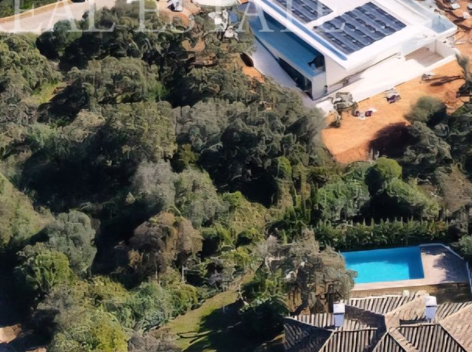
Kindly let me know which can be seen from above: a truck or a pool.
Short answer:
pool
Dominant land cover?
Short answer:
trees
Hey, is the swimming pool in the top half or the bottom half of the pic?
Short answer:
bottom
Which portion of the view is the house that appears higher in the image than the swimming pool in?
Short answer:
top right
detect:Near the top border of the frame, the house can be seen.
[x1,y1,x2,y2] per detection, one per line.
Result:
[246,0,459,112]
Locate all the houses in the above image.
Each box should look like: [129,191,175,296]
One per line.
[246,0,459,112]
[269,290,472,352]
